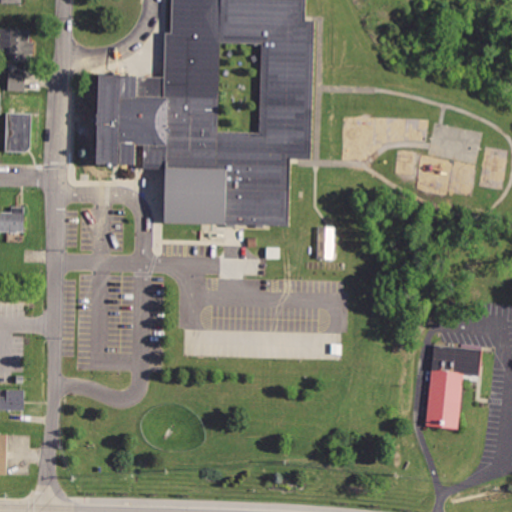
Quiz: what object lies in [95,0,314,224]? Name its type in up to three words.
building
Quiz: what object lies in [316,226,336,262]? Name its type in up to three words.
shed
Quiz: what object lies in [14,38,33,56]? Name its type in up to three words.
house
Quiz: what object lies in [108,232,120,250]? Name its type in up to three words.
vehicle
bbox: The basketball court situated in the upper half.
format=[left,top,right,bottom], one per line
[429,123,482,165]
